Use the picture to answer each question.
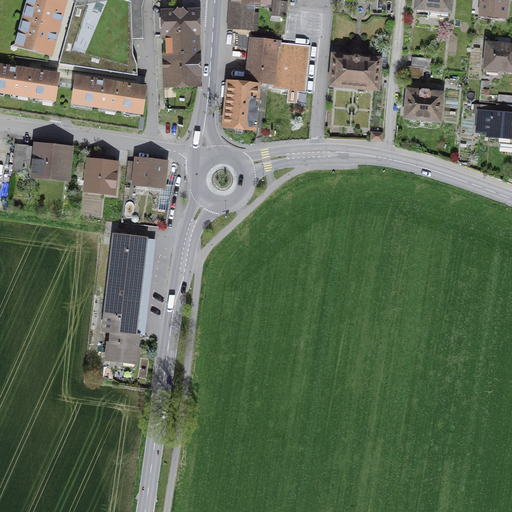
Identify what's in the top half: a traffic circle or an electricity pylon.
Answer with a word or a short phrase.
traffic circle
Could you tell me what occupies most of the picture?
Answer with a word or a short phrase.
grass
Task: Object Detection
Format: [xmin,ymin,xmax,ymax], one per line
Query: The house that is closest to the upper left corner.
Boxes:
[14,0,69,57]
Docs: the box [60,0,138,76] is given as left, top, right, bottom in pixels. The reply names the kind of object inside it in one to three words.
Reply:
building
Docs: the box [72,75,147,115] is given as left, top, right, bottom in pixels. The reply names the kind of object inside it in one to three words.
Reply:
house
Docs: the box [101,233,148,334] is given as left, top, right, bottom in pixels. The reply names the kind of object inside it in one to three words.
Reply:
barn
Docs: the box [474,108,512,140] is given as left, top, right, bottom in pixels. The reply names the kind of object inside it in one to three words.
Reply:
house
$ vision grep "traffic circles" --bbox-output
[174,144,257,214]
